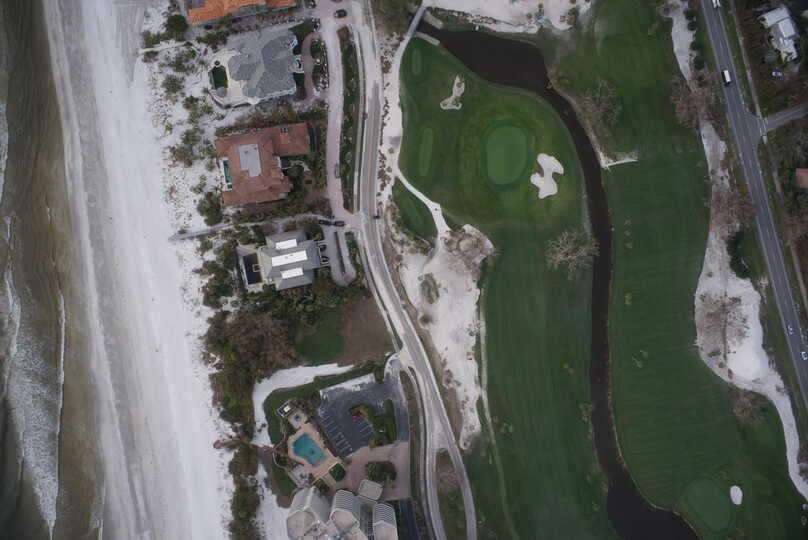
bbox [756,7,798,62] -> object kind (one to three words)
house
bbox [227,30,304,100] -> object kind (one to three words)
house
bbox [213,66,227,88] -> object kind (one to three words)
swimming pool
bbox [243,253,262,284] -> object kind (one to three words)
swimming pool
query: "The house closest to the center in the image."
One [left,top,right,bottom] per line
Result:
[263,231,330,291]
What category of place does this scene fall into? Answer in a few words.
golf course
